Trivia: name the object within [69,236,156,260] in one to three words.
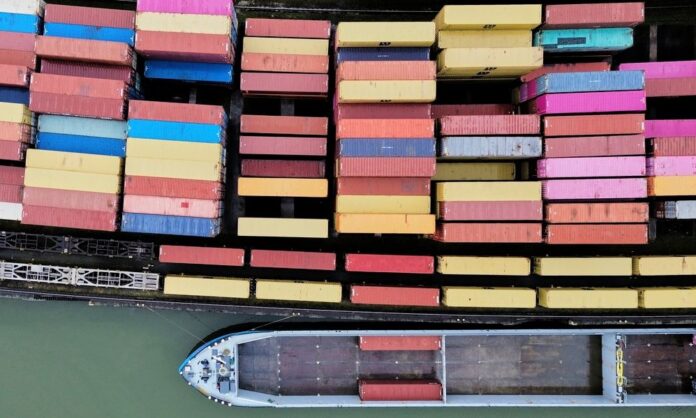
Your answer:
rail car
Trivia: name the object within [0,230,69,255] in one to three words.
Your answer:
rail car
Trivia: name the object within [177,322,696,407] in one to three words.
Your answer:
ship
